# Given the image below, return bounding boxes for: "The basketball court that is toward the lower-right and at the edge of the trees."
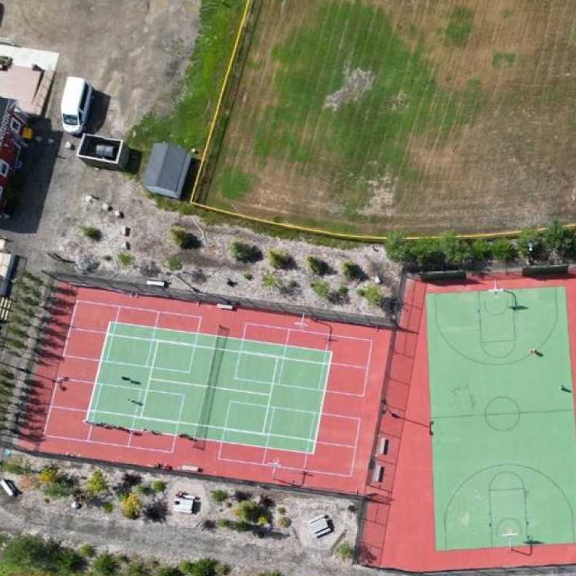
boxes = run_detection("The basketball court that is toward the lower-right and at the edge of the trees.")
[354,268,576,572]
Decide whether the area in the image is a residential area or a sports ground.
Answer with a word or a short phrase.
sports ground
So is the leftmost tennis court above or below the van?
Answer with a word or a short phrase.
below it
